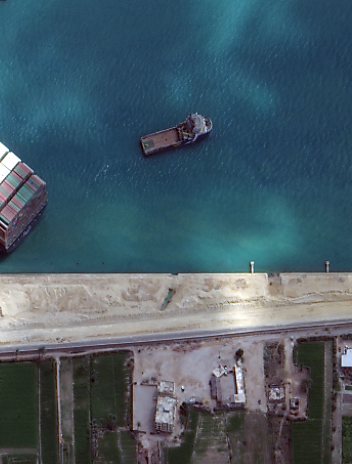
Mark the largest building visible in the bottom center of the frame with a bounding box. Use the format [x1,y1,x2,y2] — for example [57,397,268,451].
[155,396,178,434]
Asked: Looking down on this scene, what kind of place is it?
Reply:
port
